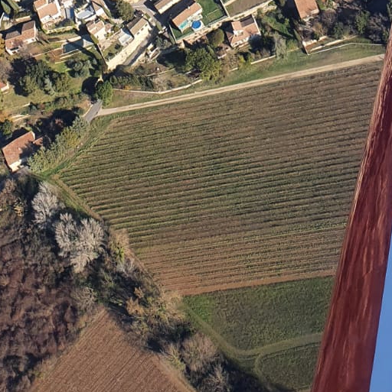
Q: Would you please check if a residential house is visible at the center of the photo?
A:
No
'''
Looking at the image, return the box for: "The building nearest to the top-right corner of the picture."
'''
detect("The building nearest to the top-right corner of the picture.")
[292,0,327,31]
